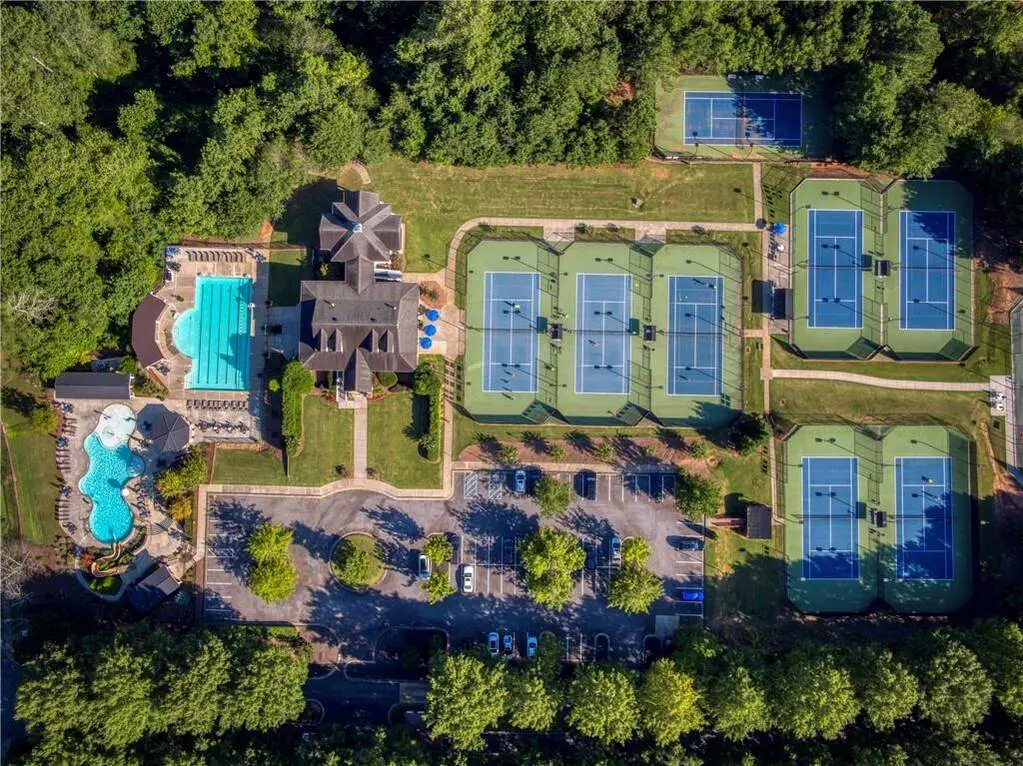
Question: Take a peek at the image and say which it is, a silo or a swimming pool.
swimming pool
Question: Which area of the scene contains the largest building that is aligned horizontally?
left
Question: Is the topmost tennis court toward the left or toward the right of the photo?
right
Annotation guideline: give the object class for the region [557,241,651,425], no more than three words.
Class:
tennis court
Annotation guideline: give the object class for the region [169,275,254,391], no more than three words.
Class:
swimming pool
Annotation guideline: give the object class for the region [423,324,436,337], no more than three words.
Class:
umbrella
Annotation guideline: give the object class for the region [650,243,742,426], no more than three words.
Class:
tennis court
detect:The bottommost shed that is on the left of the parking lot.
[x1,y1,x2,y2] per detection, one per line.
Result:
[126,565,186,613]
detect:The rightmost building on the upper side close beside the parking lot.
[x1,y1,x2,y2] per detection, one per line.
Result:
[300,191,419,392]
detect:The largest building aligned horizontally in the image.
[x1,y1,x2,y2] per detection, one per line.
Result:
[50,374,135,399]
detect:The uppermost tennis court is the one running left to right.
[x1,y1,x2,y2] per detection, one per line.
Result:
[654,76,834,160]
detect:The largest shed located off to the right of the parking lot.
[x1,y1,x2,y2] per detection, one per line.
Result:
[744,506,771,539]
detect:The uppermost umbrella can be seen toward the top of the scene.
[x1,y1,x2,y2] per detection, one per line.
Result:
[772,222,786,236]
